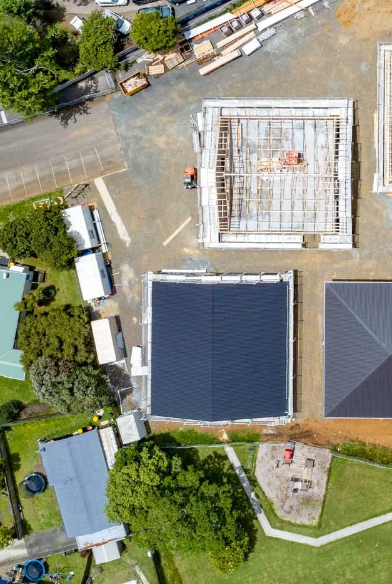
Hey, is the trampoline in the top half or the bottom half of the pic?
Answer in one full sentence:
The bottom half of the photo is where the trampoline is.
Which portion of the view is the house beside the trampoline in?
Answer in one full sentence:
The house beside the trampoline is located in the bottom left region of the scene.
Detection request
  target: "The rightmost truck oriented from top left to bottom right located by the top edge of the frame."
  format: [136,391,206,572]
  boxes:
[103,6,134,38]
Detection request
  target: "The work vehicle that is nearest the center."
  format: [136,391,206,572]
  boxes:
[183,168,198,184]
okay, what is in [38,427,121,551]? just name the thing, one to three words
house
